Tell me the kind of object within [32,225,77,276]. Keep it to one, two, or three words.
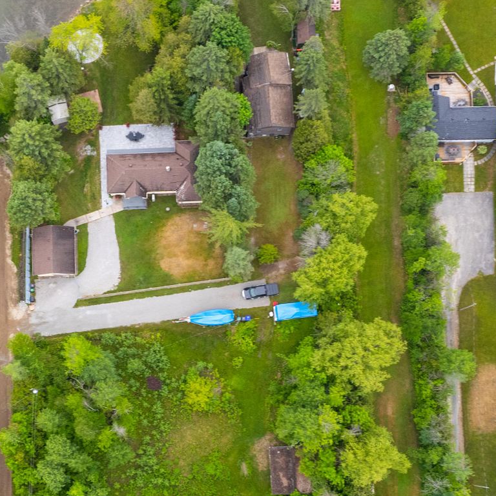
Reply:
building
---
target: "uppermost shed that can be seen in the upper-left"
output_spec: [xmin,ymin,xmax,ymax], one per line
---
[48,96,69,126]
